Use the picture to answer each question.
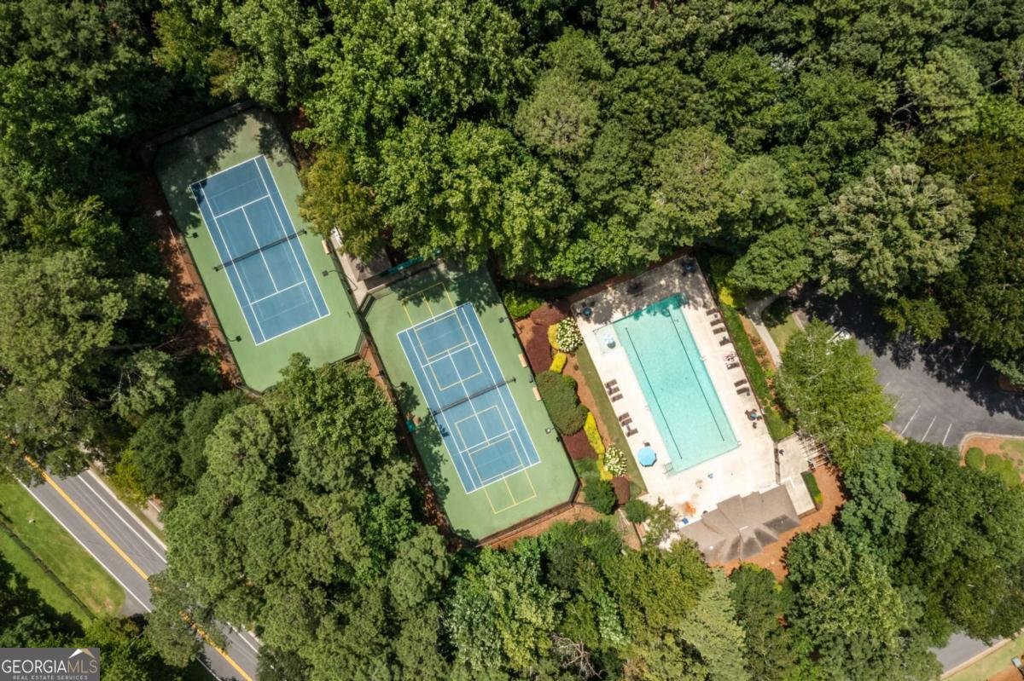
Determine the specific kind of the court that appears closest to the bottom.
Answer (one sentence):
What you see as the court that appears closest to the bottom is a tennis court.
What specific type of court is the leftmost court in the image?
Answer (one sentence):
I'd say the leftmost court is a tennis court.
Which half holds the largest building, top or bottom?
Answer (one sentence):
You can find the largest building in the bottom half.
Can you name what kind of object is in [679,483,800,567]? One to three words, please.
building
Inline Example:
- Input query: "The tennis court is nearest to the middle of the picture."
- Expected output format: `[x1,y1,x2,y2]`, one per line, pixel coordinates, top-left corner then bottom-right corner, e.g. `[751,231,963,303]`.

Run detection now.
[364,258,578,542]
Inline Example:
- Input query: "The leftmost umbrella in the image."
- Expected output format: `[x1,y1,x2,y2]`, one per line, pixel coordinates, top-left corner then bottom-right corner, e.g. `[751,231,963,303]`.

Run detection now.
[637,446,656,465]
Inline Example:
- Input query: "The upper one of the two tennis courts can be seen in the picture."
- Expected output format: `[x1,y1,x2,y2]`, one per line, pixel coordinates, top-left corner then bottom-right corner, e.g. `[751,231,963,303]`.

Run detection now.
[153,108,358,390]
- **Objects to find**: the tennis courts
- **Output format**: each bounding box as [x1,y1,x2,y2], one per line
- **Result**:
[364,258,578,542]
[153,108,358,390]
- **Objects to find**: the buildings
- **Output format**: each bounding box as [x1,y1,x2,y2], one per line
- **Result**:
[679,483,800,567]
[344,238,393,283]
